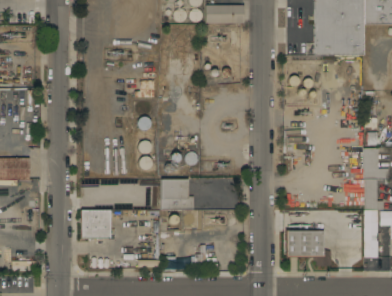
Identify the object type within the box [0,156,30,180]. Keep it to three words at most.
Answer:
building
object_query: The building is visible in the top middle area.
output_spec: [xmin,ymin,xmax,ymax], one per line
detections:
[206,4,244,24]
